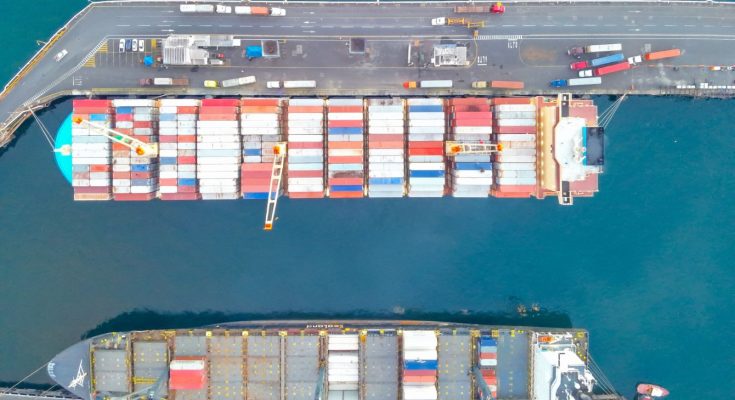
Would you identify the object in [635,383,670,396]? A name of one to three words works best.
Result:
boat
